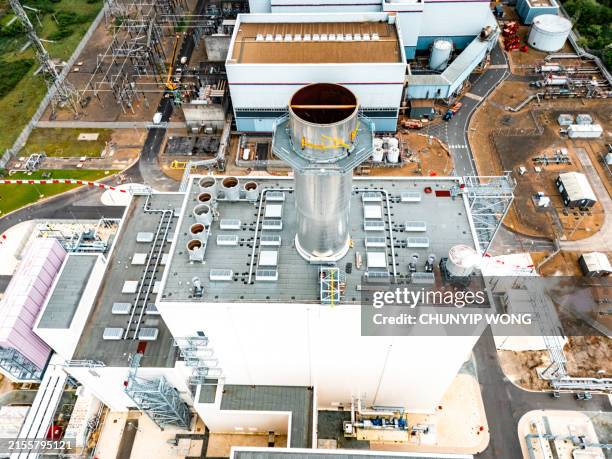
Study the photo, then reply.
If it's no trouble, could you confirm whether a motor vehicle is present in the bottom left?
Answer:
No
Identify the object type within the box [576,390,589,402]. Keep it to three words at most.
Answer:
vehicle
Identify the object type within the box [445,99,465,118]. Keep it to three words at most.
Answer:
vehicle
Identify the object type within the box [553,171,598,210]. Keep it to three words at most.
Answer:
shed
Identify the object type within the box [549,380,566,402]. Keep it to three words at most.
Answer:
car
